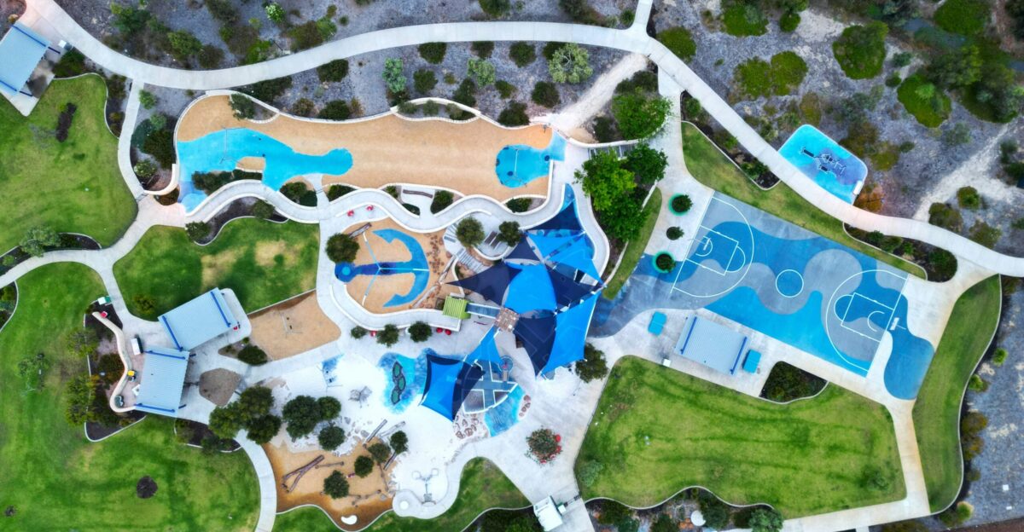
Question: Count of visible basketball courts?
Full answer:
Altogether the scene contains 1 basketball court.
